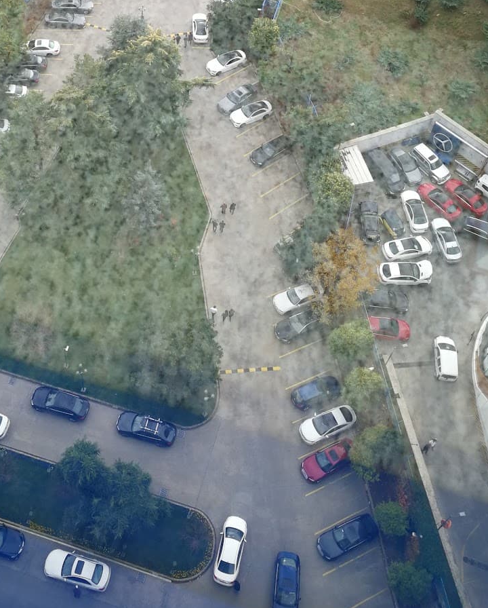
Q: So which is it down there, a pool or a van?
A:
van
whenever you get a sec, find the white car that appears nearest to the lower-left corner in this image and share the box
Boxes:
[44,548,110,591]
